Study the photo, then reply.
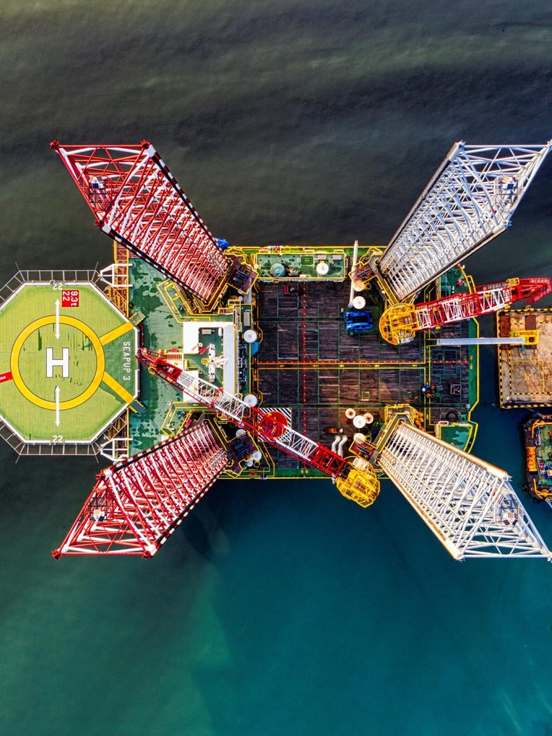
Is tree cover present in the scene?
No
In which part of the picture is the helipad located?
left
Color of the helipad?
yellow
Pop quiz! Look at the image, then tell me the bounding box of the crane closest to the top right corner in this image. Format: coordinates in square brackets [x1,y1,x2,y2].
[377,273,547,344]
